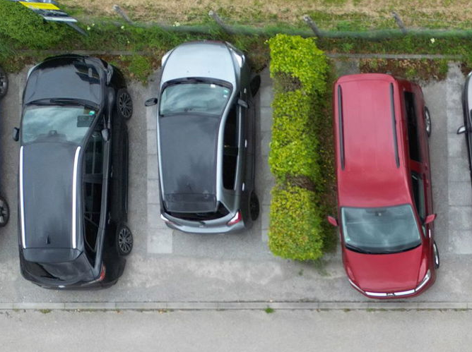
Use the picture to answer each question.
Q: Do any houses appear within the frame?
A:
No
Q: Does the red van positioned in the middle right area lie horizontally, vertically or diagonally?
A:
vertically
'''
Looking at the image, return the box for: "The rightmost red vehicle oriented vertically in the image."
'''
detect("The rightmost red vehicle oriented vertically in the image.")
[322,75,438,302]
